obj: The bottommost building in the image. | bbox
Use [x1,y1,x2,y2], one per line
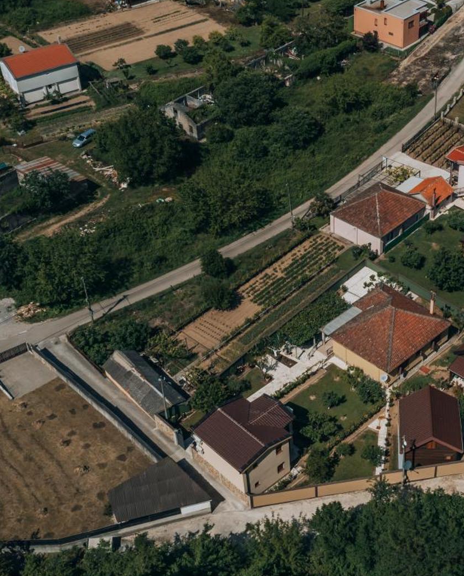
[110,457,213,539]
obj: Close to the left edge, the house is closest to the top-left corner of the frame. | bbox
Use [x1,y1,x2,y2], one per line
[0,39,88,109]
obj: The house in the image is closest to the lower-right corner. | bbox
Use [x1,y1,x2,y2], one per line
[398,385,464,469]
